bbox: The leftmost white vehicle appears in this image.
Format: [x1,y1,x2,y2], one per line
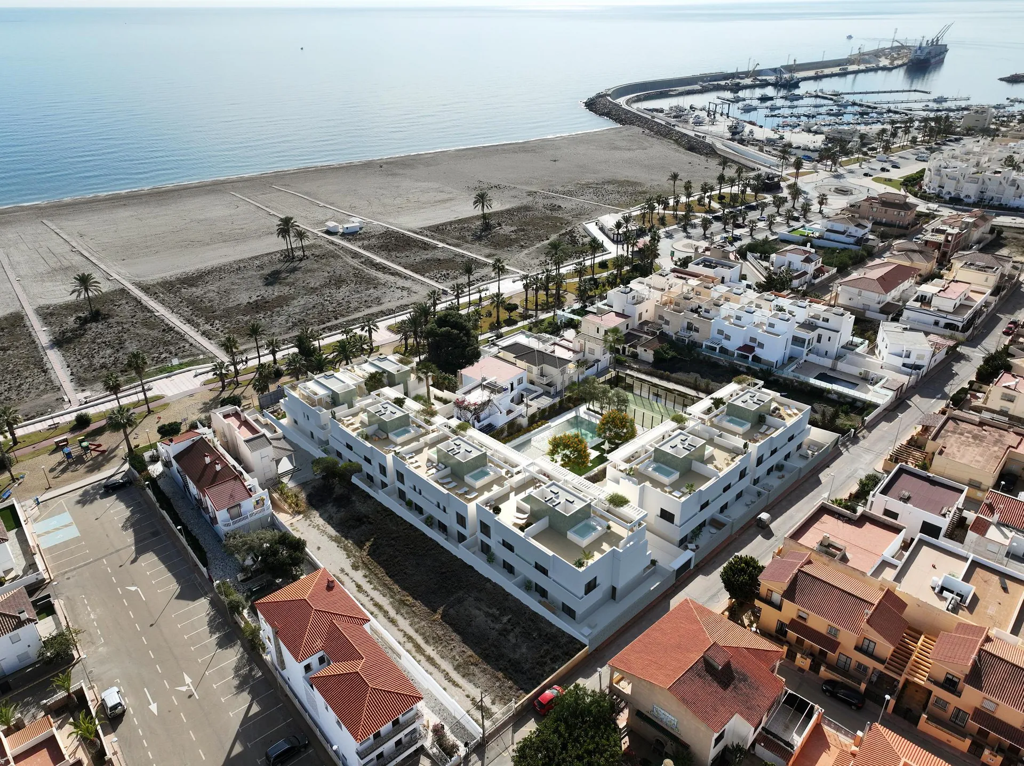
[99,683,128,720]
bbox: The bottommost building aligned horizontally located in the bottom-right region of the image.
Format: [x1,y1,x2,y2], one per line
[843,716,959,766]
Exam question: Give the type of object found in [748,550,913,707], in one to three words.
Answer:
house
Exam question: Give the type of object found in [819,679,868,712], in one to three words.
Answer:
car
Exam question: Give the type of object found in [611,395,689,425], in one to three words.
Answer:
sports court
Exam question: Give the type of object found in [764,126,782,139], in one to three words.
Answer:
boat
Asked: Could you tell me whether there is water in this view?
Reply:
Yes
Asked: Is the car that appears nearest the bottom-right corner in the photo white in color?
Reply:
No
